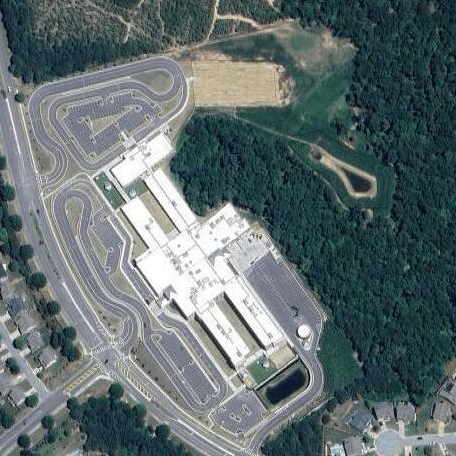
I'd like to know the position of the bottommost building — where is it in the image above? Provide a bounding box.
[341,438,363,456]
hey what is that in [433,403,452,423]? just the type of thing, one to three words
house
